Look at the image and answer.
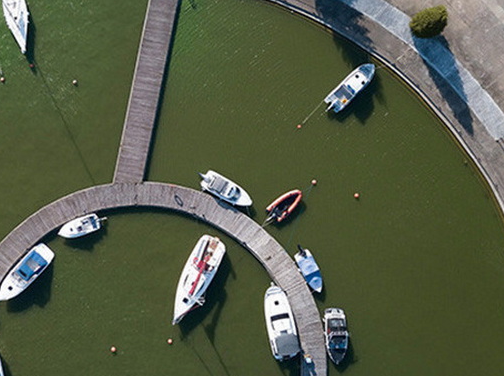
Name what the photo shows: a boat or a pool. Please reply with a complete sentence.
Visible in the photo is a boat.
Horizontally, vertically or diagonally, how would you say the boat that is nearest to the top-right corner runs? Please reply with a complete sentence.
The boat that is nearest to the top-right corner is laid out diagonally.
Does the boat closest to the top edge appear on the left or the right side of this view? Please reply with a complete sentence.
The boat closest to the top edge sits on the left side.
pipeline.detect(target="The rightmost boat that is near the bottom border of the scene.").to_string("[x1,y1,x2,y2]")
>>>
[322,305,347,365]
